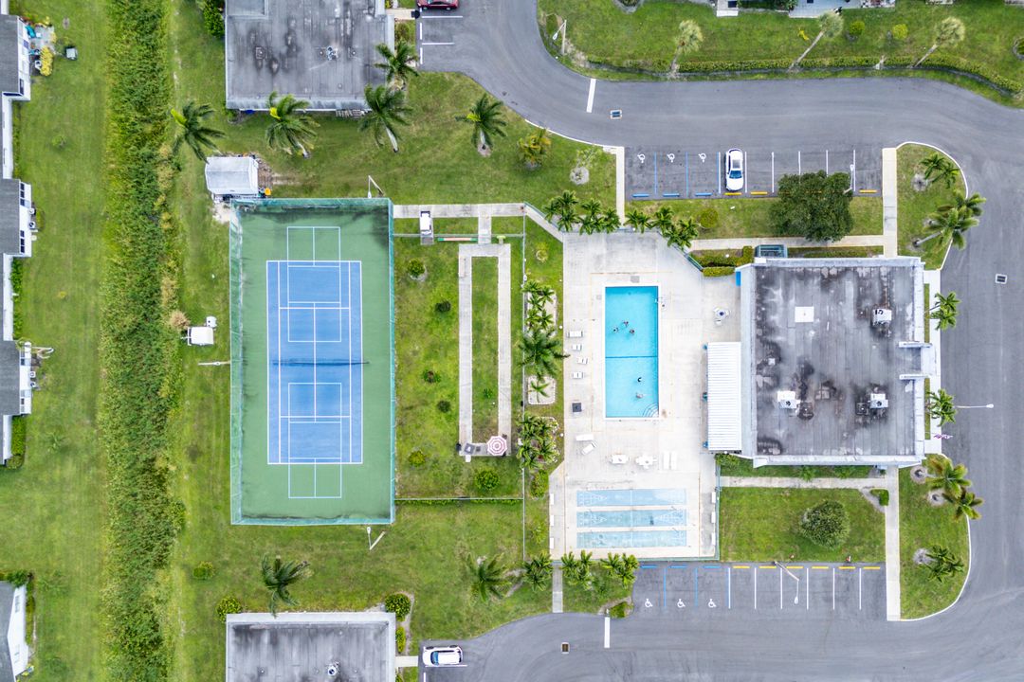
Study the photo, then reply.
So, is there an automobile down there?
Yes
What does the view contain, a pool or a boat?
pool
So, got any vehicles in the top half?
Yes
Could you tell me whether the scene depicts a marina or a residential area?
residential area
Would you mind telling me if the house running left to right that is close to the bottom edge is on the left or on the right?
left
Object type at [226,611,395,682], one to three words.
house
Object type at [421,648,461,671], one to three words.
car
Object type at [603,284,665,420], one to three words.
swimming pool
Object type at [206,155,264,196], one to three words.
shed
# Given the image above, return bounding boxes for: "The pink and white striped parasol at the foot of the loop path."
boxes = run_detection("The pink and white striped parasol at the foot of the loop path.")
[487,438,506,458]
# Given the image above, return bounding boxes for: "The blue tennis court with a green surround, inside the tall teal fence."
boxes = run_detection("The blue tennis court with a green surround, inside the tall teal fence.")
[241,204,389,517]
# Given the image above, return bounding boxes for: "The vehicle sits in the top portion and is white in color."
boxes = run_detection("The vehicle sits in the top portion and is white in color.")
[725,148,745,190]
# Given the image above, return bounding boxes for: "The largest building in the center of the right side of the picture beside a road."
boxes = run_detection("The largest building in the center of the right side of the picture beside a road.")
[700,257,931,468]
